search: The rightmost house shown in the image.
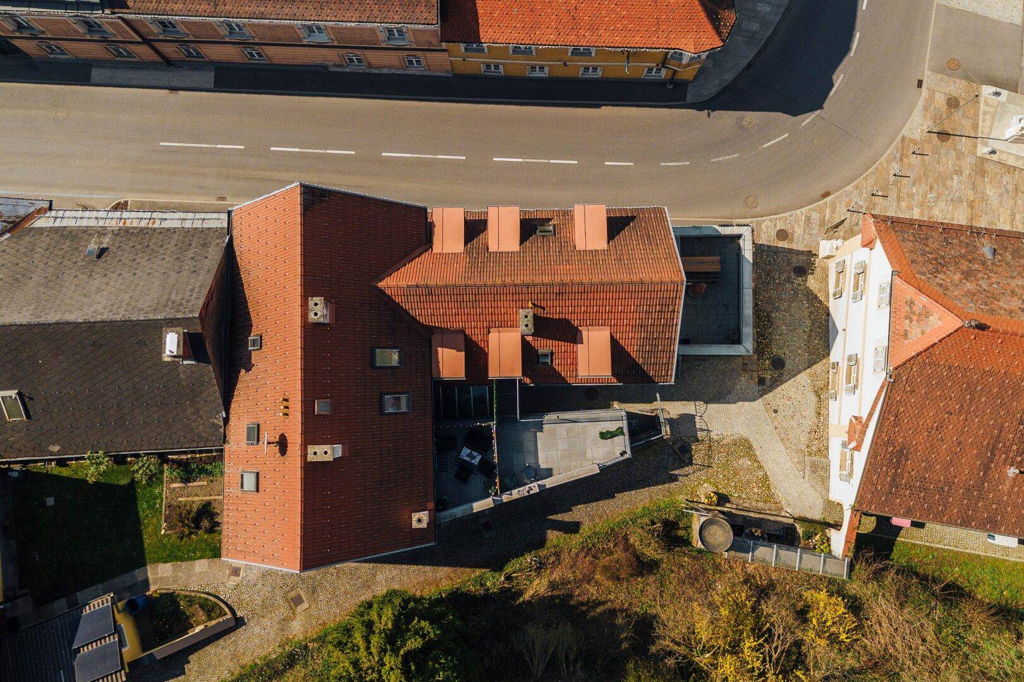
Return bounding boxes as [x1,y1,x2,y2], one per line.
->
[821,215,1024,542]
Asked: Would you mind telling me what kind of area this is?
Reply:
residential area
